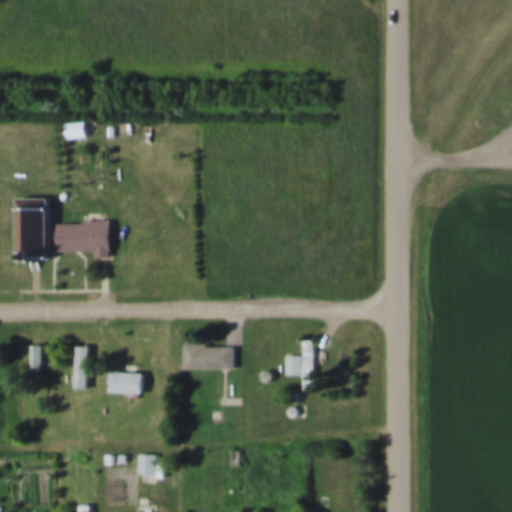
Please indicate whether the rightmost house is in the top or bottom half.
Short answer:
bottom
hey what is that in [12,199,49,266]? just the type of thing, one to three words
building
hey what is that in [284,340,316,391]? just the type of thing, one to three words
house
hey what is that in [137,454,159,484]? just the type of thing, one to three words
house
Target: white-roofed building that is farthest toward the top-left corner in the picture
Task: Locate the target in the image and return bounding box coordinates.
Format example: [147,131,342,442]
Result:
[64,121,92,142]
